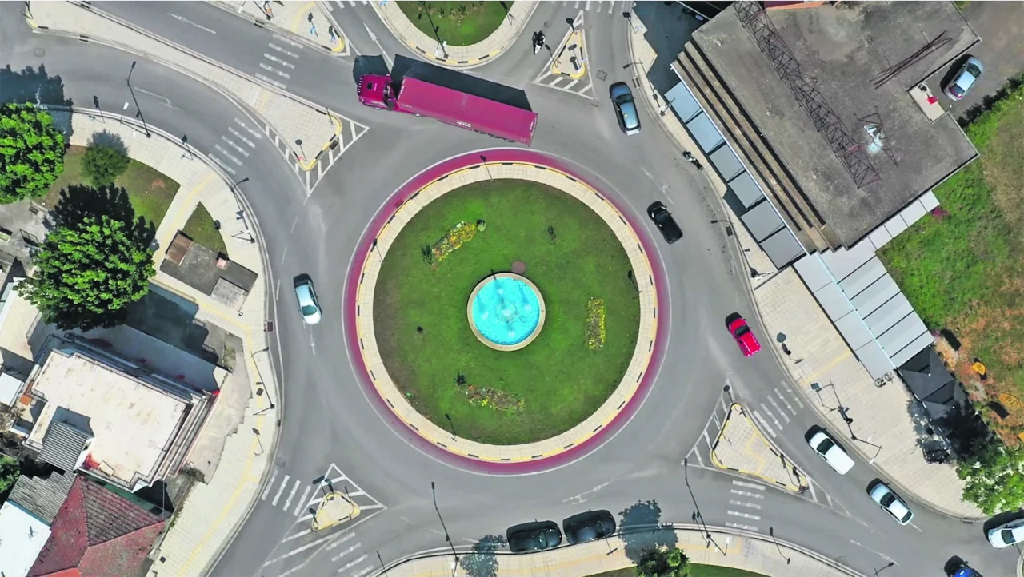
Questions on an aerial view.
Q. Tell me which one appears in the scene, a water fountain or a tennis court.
water fountain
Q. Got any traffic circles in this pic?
Yes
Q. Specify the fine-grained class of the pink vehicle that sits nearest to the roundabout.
truck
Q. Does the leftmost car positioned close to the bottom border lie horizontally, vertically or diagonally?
horizontally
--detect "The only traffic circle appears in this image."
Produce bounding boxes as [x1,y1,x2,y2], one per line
[342,148,670,476]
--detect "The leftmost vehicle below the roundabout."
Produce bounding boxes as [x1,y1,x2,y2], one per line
[510,526,560,552]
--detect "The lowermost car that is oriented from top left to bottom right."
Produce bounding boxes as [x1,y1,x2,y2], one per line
[869,483,915,526]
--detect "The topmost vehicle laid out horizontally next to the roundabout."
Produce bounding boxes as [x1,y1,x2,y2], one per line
[358,72,537,146]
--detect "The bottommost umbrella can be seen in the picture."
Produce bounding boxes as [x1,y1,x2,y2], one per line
[923,380,981,436]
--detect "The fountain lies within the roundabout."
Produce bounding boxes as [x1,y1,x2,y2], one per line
[467,273,545,351]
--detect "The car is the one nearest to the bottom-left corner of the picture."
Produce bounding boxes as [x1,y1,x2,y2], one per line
[293,278,321,325]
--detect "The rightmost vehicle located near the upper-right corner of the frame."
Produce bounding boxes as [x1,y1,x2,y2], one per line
[945,58,985,101]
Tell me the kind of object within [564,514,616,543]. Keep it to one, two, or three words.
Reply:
car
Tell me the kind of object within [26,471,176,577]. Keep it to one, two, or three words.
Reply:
house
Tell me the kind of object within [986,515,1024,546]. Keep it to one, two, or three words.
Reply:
car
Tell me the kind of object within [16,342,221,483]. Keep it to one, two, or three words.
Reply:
building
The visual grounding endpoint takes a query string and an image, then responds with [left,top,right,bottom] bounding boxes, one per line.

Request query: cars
[564,514,616,543]
[869,483,915,526]
[952,565,980,577]
[610,85,641,136]
[293,278,321,325]
[510,526,560,552]
[666,0,706,28]
[986,515,1024,546]
[945,58,985,101]
[650,201,684,245]
[809,431,854,475]
[729,316,763,358]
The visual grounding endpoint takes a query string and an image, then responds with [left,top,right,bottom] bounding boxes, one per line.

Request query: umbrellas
[923,380,981,436]
[898,346,954,401]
